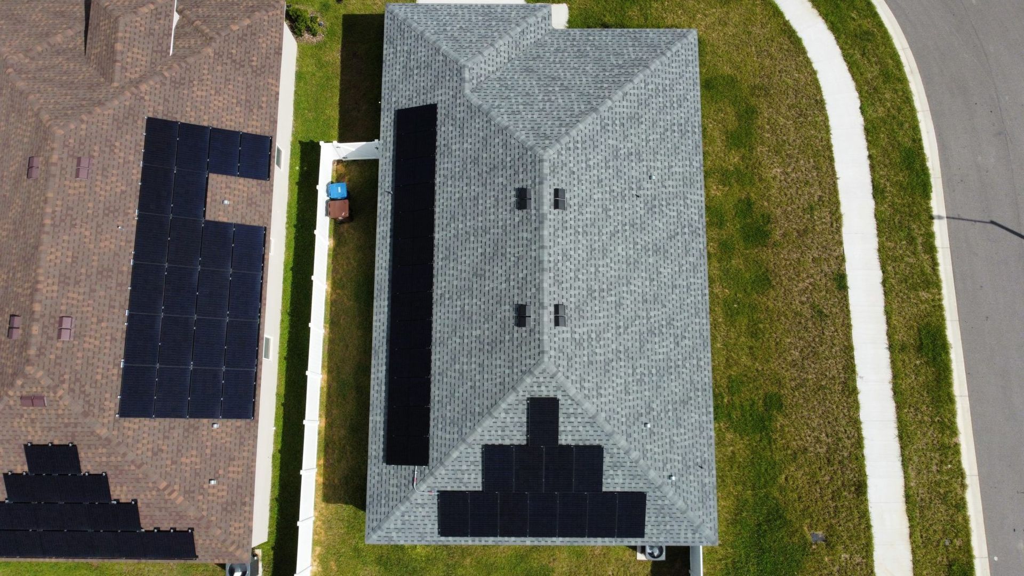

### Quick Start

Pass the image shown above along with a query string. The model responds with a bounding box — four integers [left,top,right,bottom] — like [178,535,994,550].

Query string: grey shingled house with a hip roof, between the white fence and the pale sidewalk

[365,2,719,547]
